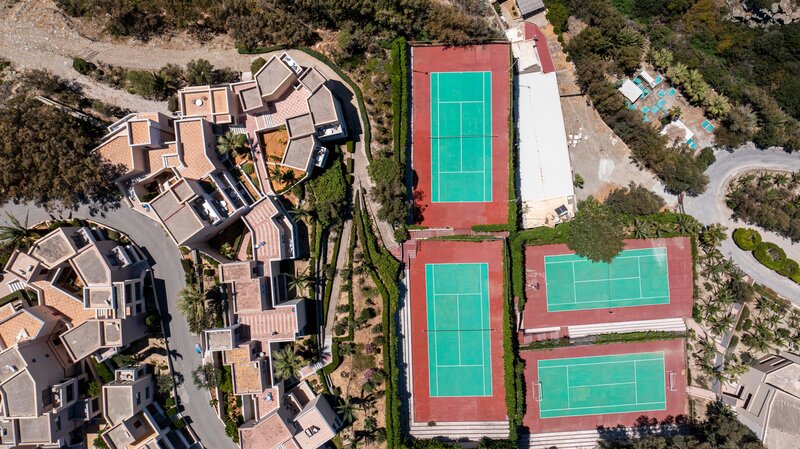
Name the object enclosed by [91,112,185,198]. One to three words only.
house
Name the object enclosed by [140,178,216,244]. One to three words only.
house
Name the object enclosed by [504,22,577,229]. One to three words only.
building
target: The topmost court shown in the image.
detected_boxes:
[412,44,511,227]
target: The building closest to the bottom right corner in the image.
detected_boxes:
[720,346,800,449]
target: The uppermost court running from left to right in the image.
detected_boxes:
[523,237,692,329]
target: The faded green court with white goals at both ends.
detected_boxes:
[520,339,687,434]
